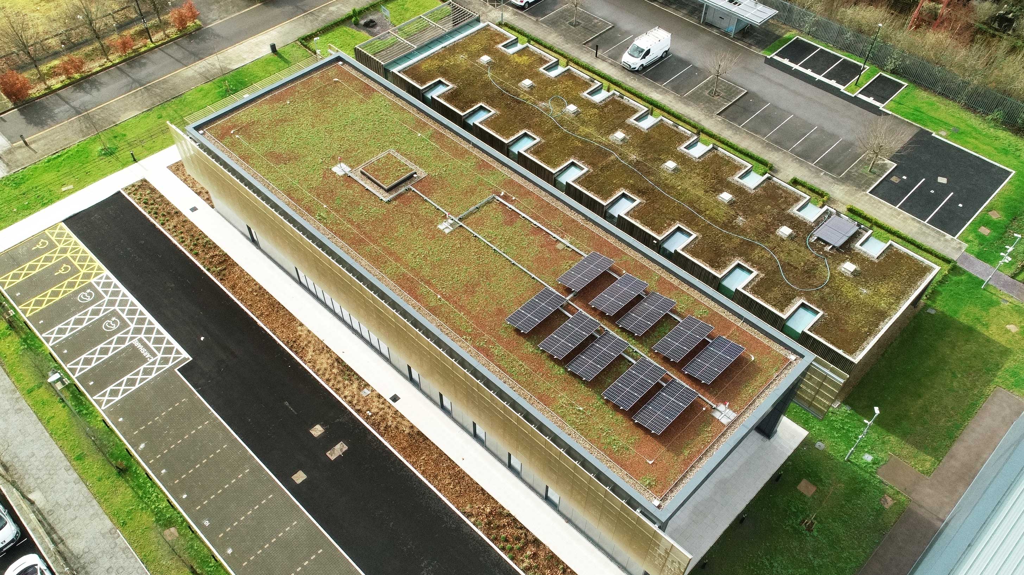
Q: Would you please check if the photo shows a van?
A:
Yes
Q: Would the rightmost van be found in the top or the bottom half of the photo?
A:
top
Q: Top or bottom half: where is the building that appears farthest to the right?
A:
bottom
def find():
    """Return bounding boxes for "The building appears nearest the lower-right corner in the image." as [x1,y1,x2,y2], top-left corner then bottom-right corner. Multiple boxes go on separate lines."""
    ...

[907,410,1024,575]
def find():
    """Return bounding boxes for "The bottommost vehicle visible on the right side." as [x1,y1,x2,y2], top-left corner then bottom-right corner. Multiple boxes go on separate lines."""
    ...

[622,24,672,70]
